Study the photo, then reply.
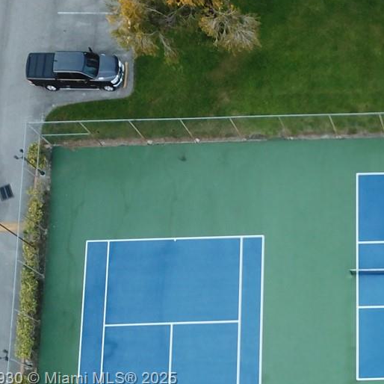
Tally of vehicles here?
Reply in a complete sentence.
The picture shows just 1 vehicle.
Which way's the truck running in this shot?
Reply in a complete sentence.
The truck is oriented from left to right.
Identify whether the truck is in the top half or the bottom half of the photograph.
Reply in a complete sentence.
The truck sits in the top half of the picture.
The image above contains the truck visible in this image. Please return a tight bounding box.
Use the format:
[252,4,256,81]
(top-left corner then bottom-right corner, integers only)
[22,44,125,88]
